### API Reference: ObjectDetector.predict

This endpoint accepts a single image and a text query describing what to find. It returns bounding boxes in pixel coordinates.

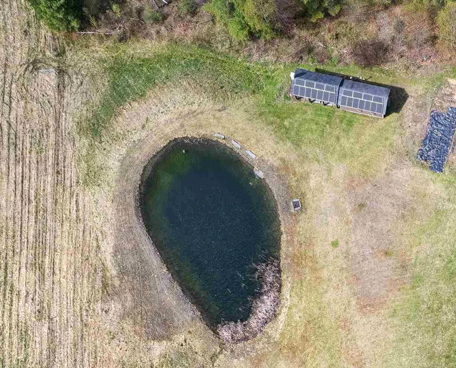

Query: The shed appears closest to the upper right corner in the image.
[339,78,391,121]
